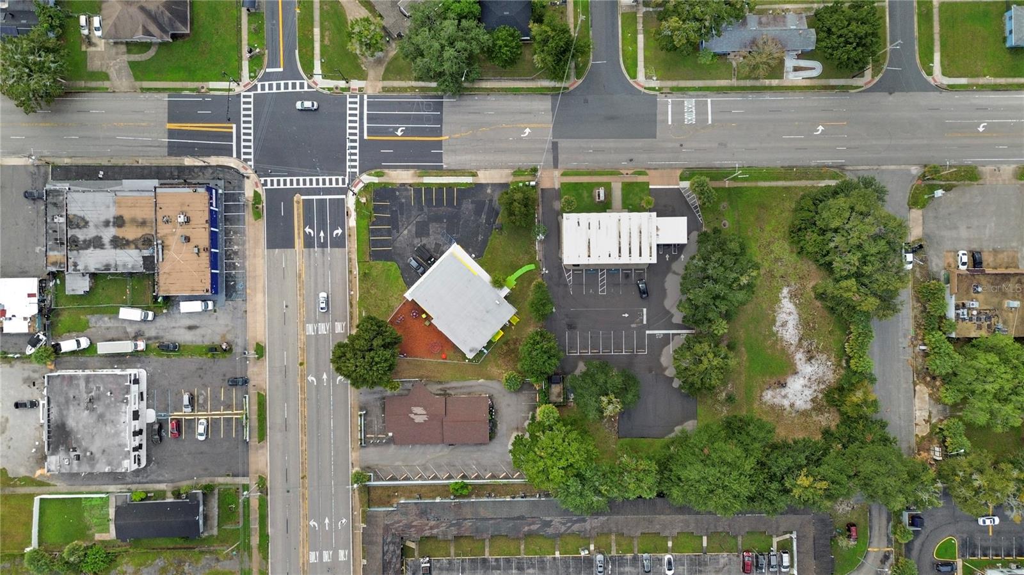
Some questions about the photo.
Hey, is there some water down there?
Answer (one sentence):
No, there is no water in the image.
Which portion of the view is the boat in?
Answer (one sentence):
The boat is in the left part of the image.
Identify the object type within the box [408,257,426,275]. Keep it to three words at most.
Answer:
car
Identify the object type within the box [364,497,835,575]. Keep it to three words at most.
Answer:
building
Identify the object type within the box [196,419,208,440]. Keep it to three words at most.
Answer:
vehicle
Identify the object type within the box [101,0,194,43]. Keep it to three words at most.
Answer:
house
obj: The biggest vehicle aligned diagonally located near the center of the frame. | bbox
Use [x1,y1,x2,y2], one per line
[414,241,439,265]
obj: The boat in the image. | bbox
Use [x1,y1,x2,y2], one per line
[23,332,44,355]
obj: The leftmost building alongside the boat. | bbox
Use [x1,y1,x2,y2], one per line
[0,277,44,333]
